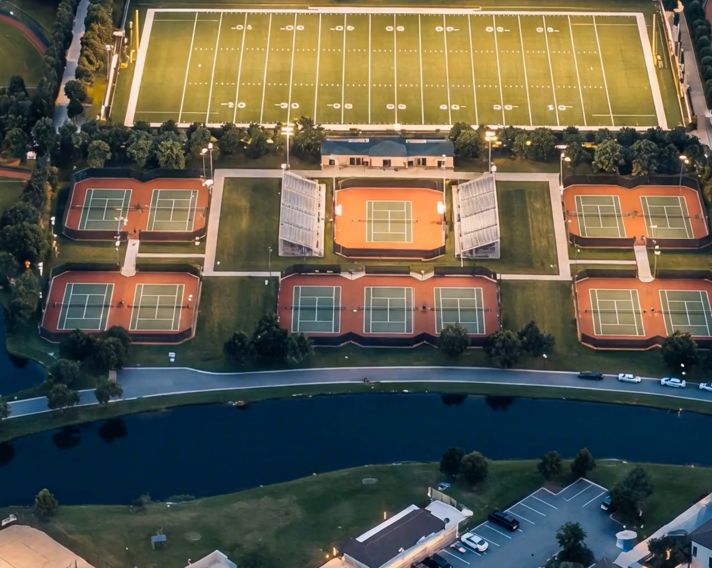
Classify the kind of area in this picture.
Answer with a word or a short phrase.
sports ground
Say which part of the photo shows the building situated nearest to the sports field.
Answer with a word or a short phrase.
top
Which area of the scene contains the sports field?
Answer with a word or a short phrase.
top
